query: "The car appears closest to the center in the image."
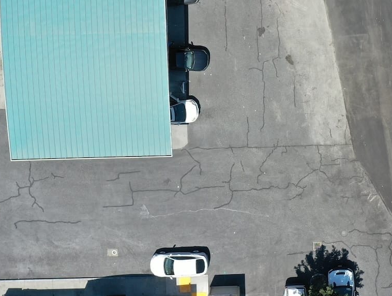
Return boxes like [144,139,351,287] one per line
[170,92,200,126]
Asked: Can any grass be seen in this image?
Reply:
No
